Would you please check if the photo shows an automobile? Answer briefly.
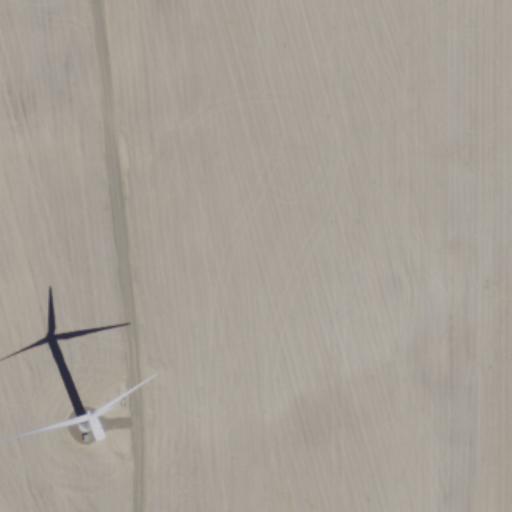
No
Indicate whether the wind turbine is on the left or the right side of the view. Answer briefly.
left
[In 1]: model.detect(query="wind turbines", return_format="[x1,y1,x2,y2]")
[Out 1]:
[0,376,160,441]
